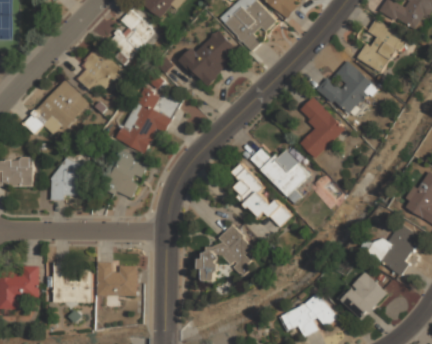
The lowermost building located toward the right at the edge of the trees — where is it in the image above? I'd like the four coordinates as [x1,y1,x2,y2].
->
[281,297,334,338]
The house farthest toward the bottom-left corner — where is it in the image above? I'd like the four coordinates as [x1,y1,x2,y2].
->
[0,267,38,312]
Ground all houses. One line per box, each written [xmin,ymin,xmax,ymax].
[194,224,250,282]
[109,150,146,200]
[116,78,178,152]
[264,0,298,16]
[38,80,88,133]
[76,54,120,90]
[298,100,347,160]
[112,9,156,64]
[177,32,232,84]
[364,226,418,275]
[0,158,35,188]
[97,262,138,308]
[318,64,378,116]
[230,164,292,228]
[281,297,334,338]
[142,0,186,18]
[51,264,92,310]
[50,158,82,200]
[342,275,388,314]
[405,170,432,228]
[260,149,312,198]
[358,22,404,72]
[220,0,278,50]
[0,267,38,312]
